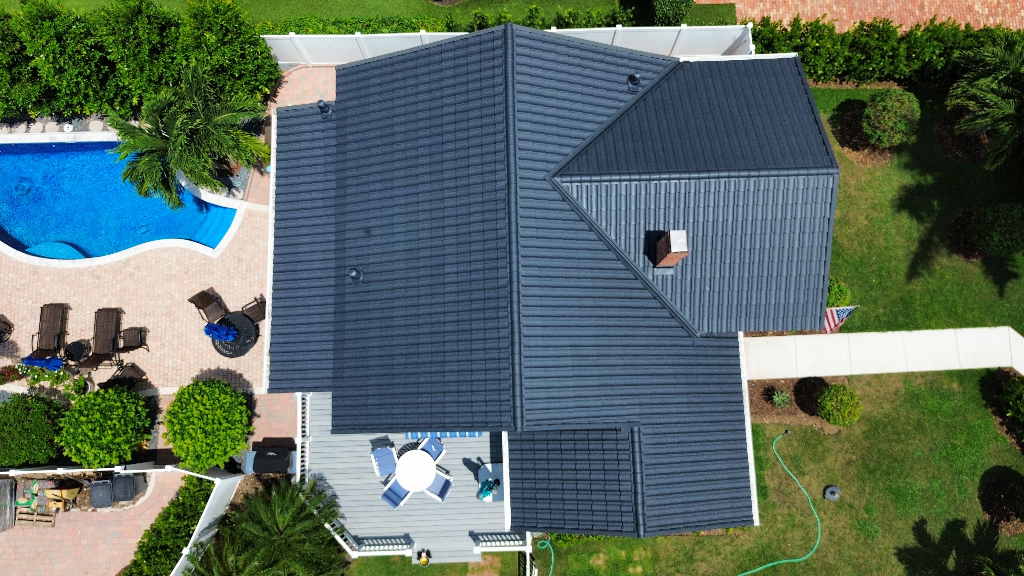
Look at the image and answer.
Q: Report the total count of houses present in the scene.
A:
1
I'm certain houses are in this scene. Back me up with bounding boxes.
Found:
[262,20,843,540]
